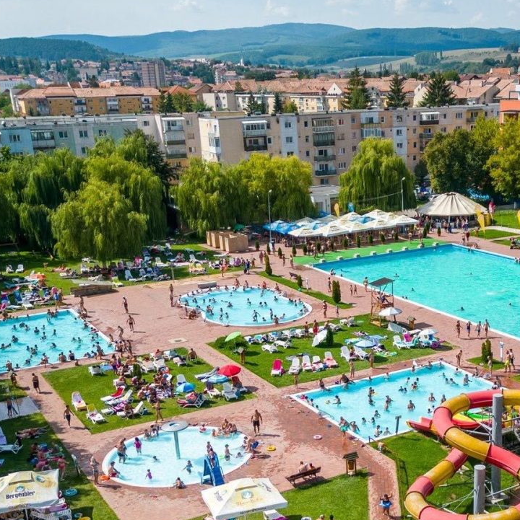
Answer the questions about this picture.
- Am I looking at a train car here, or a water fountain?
water fountain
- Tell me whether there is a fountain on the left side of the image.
Yes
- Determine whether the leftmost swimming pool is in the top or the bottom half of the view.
bottom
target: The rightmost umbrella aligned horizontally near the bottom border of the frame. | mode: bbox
[200,478,289,520]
